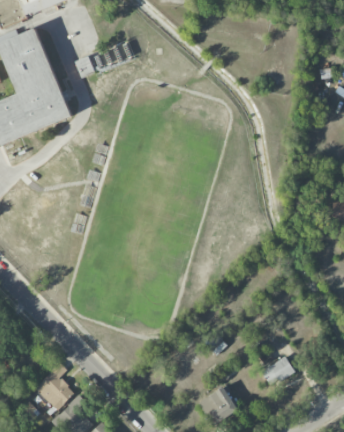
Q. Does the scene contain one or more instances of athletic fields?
Yes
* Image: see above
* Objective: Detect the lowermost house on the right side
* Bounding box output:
[202,388,236,422]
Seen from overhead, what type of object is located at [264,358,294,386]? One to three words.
house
